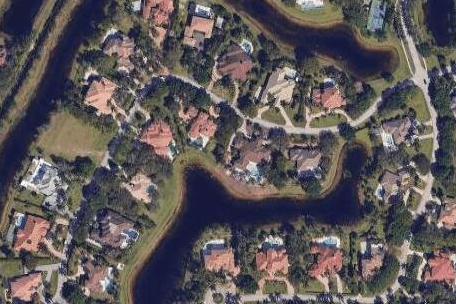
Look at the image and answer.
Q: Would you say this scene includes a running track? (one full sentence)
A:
No, there isn't any running track down there.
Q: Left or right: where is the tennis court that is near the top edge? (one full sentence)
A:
The tennis court that is near the top edge is on the right side of the image.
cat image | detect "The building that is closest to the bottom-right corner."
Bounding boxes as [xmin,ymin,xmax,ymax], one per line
[425,249,456,287]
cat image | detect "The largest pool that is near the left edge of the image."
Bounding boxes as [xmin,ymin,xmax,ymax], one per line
[22,155,64,197]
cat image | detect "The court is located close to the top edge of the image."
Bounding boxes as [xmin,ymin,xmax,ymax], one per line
[367,0,387,36]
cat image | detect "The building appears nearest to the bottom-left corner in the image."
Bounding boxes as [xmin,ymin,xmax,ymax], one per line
[10,271,44,303]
